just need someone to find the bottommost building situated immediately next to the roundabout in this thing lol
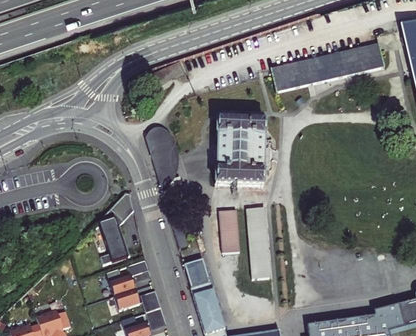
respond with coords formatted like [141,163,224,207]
[102,217,128,266]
